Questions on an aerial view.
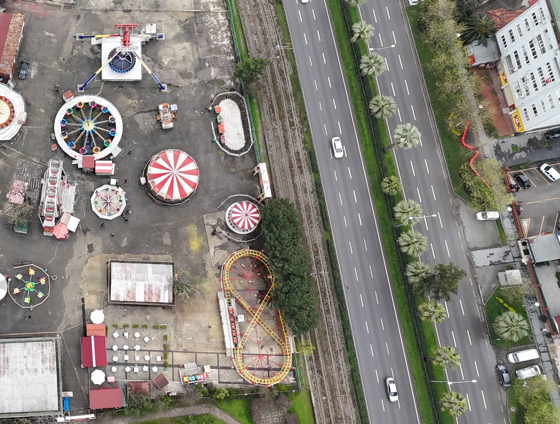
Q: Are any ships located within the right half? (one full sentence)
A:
No, looking within the right half, there is no ship.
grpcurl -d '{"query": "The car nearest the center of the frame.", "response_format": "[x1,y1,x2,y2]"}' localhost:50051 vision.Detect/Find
[330,136,343,159]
